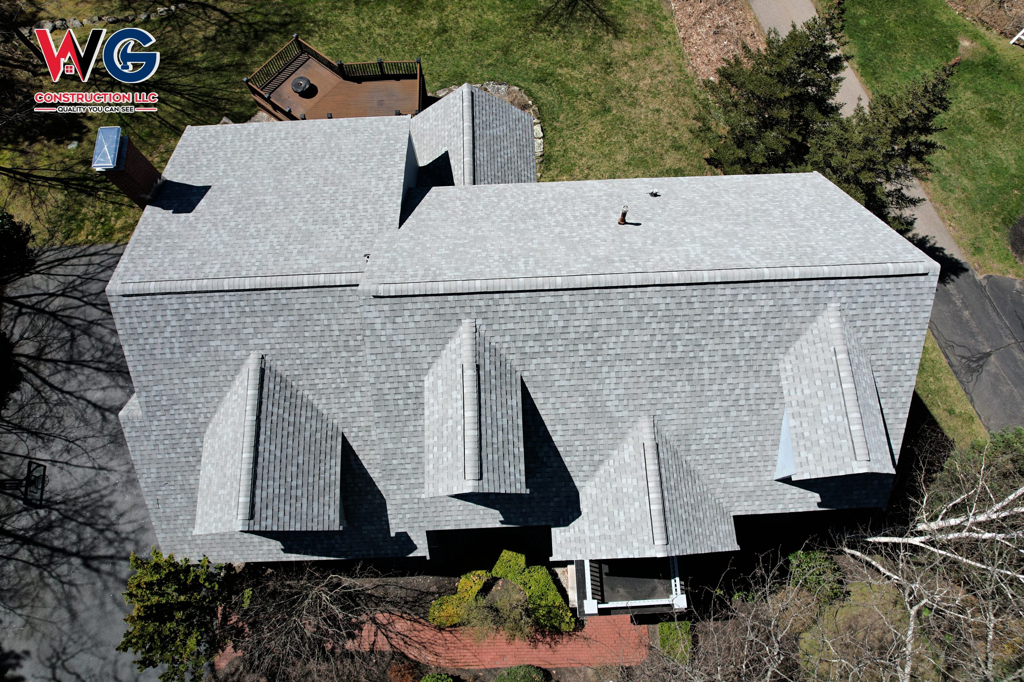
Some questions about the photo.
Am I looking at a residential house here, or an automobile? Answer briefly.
residential house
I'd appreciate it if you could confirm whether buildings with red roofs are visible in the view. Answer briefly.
No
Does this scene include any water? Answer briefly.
No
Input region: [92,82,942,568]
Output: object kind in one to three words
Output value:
house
